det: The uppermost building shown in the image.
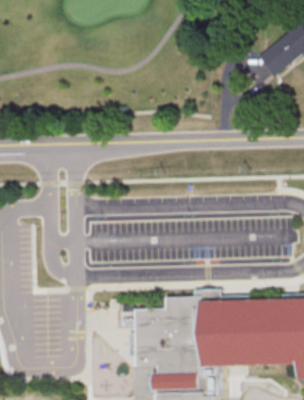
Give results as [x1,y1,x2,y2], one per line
[261,26,304,74]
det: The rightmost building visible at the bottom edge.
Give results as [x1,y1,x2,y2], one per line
[134,287,304,400]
